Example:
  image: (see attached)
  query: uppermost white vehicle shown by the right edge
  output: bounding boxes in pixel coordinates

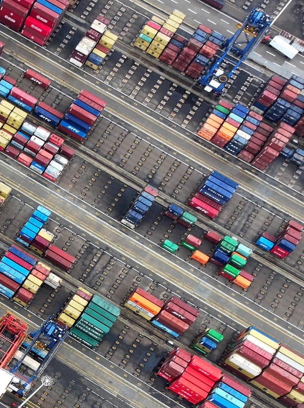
[257,36,296,60]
